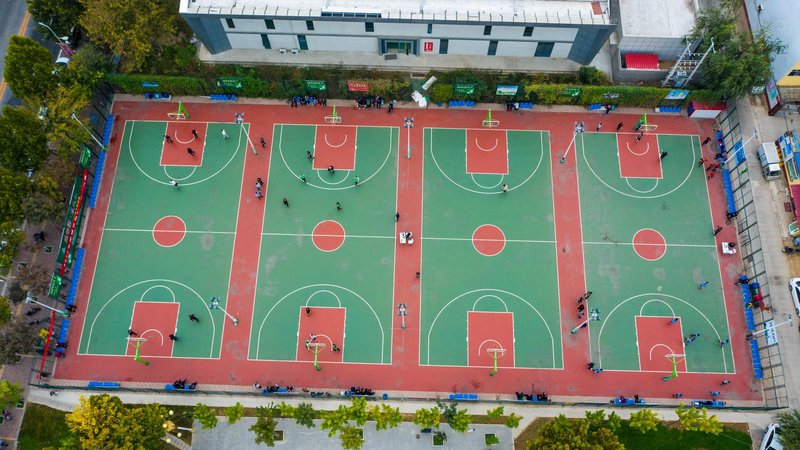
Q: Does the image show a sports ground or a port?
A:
sports ground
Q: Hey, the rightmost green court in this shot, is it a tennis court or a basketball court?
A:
basketball court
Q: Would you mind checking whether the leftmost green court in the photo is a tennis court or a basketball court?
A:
basketball court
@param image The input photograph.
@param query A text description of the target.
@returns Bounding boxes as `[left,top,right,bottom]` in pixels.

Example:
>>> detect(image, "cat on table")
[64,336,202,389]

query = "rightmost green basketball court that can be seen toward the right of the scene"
[573,131,737,374]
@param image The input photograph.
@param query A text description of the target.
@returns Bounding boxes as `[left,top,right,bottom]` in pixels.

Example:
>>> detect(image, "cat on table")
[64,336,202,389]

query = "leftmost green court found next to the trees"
[77,120,251,359]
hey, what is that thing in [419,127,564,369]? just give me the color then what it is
green basketball court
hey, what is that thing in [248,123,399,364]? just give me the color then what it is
green basketball court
